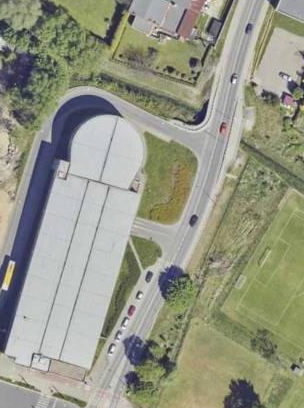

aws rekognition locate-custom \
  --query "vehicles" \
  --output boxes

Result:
[127,306,136,316]
[2,261,16,290]
[245,22,252,33]
[107,343,116,354]
[145,271,153,282]
[120,317,128,328]
[135,290,143,301]
[189,214,197,226]
[114,330,122,341]
[221,122,228,133]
